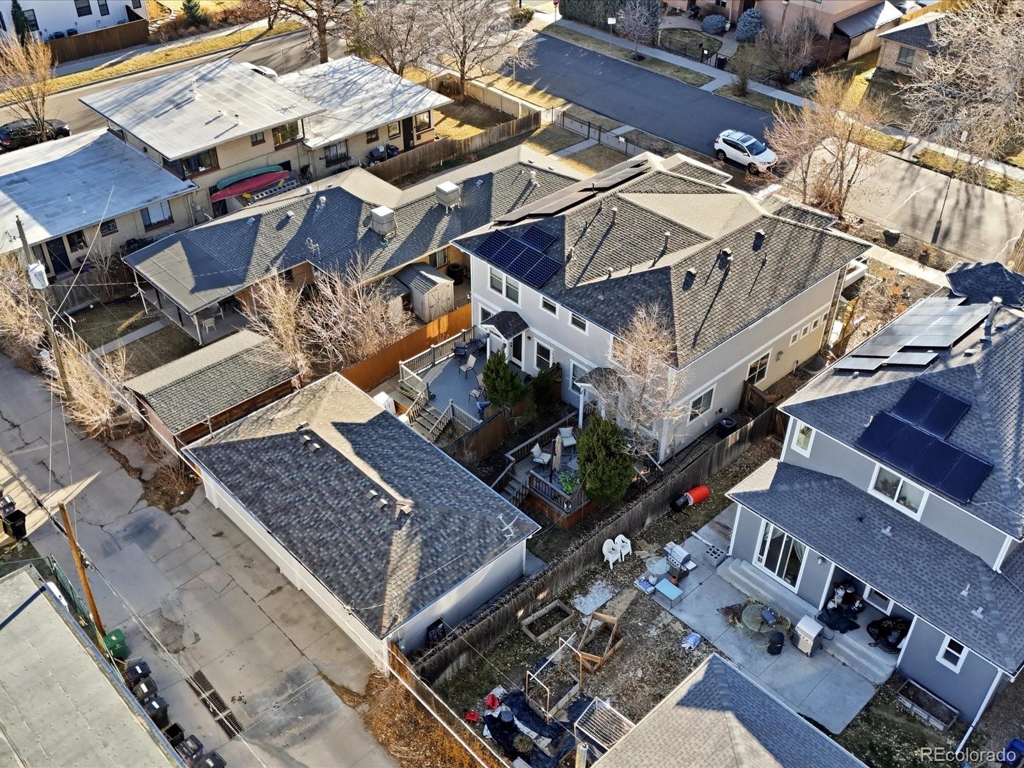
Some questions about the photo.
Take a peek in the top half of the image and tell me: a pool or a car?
car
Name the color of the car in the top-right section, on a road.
white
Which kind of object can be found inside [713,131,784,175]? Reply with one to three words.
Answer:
car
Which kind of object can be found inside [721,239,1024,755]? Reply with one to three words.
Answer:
house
